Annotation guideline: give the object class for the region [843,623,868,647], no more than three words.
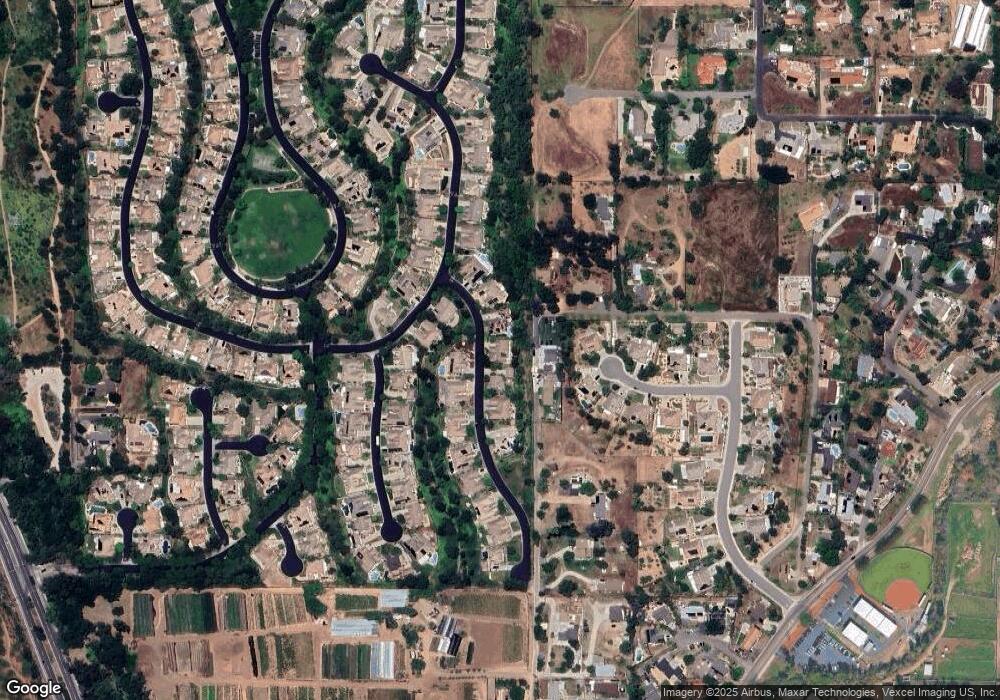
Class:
building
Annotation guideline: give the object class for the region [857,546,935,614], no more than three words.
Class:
baseball field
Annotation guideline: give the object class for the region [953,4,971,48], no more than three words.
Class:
greenhouse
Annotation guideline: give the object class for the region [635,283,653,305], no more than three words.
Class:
house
